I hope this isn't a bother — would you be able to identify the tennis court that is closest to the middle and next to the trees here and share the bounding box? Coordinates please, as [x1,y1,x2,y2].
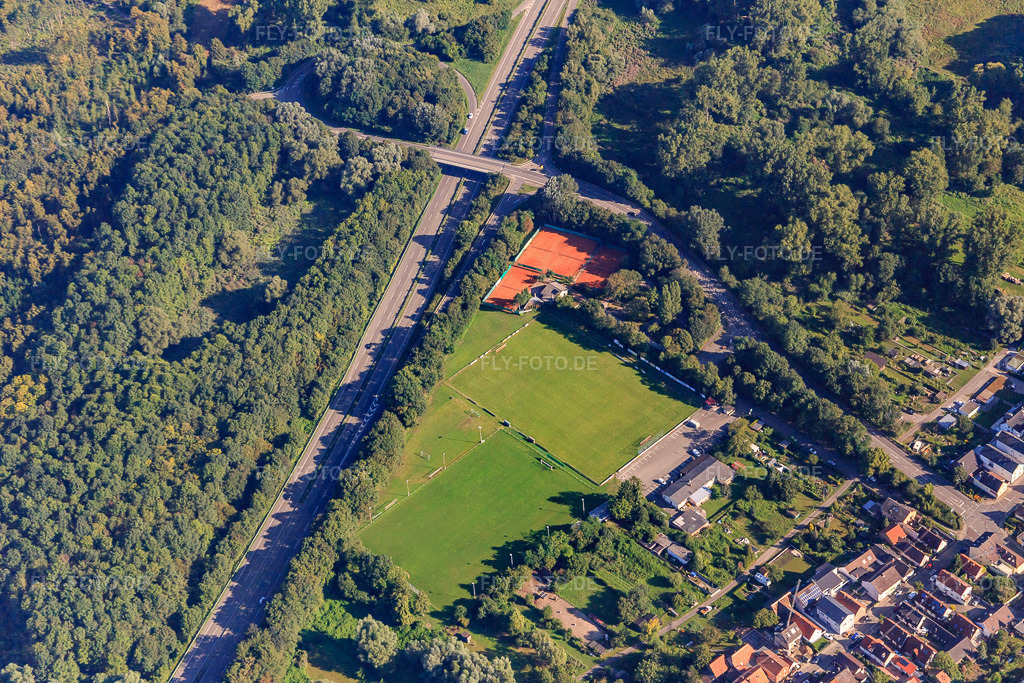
[485,266,546,311]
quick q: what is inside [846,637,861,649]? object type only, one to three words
vehicle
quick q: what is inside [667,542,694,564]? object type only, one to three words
shed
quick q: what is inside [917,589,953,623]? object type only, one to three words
house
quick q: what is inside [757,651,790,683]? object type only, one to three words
house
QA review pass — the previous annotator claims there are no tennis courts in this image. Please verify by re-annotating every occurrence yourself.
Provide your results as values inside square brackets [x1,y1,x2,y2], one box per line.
[575,247,627,288]
[546,237,599,280]
[485,266,546,311]
[518,230,571,272]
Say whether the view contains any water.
No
